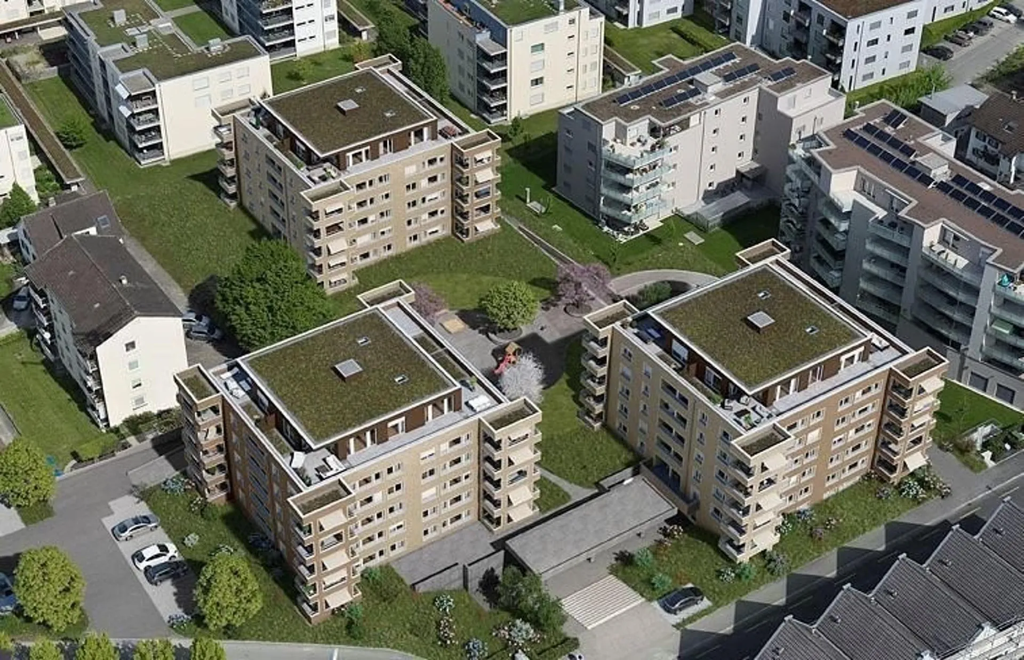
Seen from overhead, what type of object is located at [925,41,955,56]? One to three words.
car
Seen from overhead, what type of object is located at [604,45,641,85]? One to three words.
shed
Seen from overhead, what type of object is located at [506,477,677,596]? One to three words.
building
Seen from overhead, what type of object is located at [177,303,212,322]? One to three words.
car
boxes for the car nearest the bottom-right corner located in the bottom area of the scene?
[659,583,707,609]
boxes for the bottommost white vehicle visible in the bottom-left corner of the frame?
[131,540,178,564]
